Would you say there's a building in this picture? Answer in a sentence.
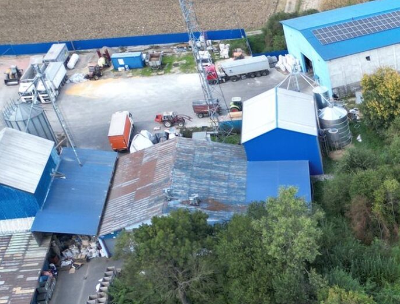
Yes, there's a building here.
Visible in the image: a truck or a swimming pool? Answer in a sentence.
Looking from above, you can make out a truck.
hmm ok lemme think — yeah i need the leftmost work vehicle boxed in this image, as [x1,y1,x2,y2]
[4,65,20,88]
